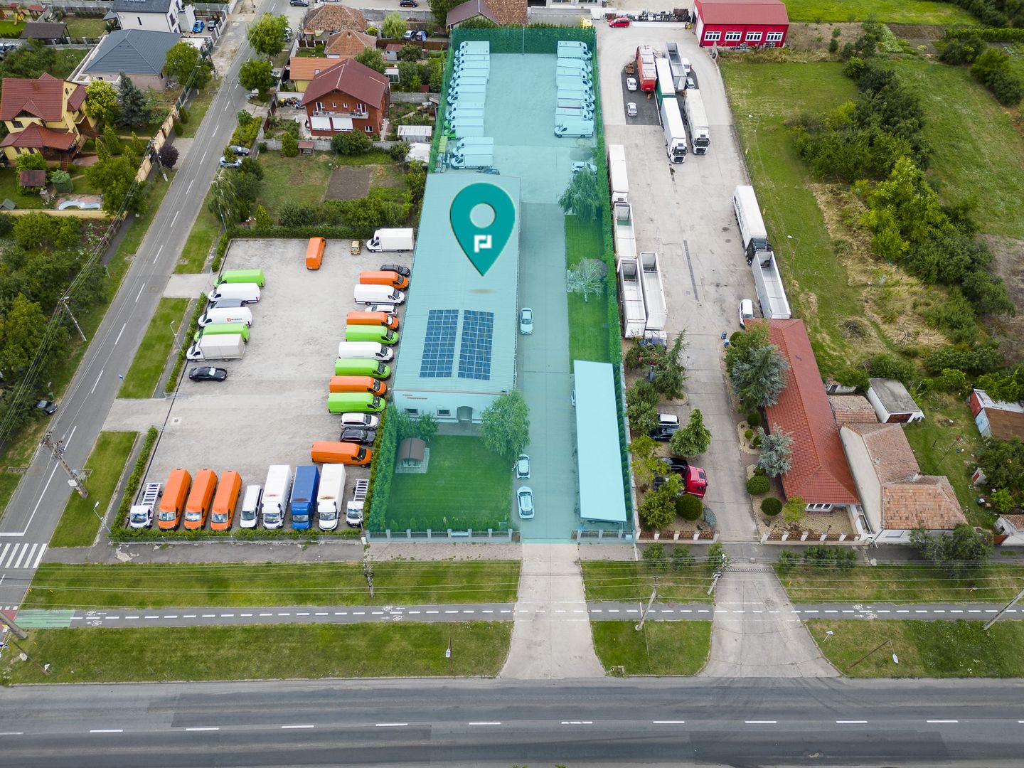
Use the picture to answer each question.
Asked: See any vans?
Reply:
Yes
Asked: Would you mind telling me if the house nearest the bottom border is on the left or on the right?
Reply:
right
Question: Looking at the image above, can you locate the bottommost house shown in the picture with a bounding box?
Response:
[978,485,1024,542]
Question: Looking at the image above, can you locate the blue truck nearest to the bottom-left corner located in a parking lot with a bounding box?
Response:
[289,465,320,531]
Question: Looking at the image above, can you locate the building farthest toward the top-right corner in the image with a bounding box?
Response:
[692,0,788,48]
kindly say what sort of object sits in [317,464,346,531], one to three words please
truck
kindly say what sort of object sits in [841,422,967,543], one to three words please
house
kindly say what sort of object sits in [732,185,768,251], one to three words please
trailer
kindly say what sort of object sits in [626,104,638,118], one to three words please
vehicle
